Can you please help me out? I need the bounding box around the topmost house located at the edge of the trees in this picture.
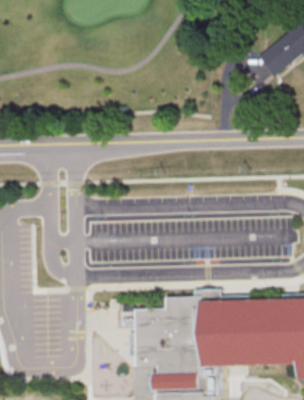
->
[261,26,304,74]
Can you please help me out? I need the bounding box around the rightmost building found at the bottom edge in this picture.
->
[134,287,304,400]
